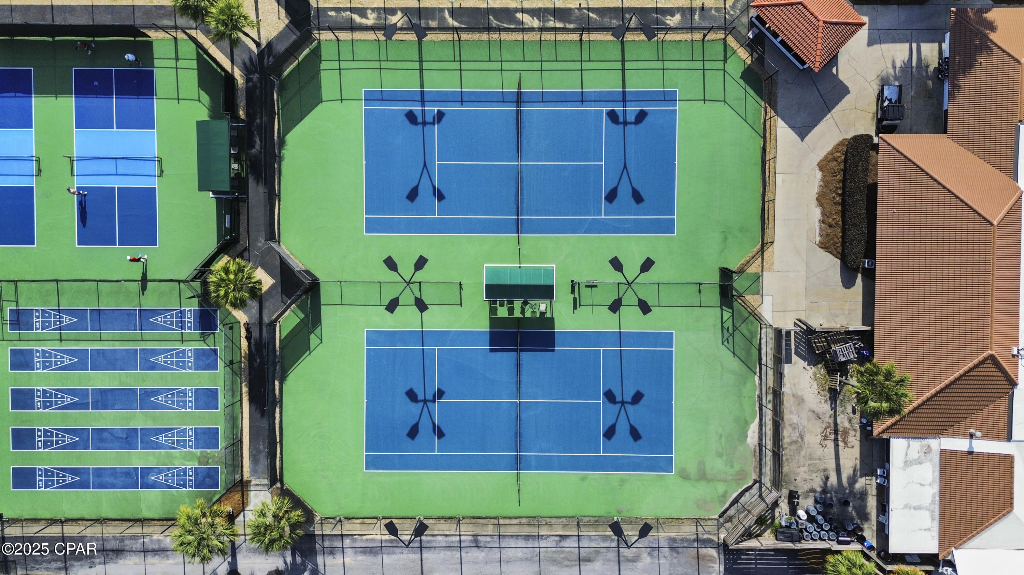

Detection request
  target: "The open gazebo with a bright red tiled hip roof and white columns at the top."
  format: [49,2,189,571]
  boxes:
[743,0,868,77]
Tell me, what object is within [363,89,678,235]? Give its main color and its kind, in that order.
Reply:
blue tennis court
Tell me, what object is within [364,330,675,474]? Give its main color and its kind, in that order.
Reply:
blue tennis court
